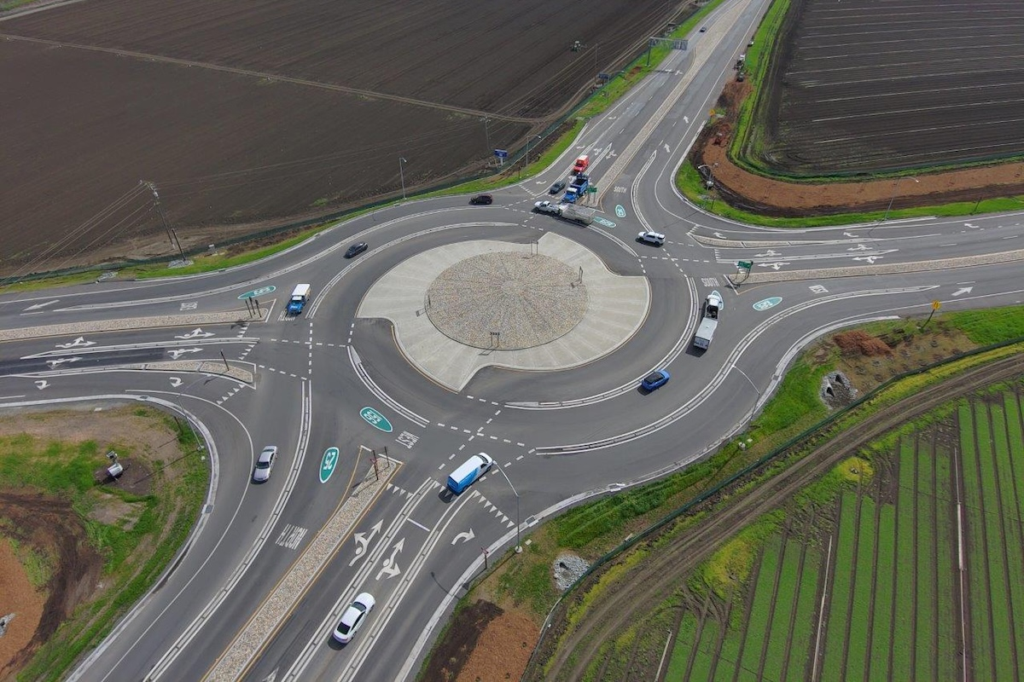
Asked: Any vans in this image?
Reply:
Yes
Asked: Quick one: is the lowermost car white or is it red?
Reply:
white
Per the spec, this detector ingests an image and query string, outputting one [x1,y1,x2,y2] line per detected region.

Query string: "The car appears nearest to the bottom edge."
[331,596,373,644]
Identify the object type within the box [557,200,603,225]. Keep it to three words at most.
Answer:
trailer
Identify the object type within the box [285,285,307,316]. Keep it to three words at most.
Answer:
truck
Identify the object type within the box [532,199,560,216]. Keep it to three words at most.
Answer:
vehicle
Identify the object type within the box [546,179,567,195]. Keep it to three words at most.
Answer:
car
